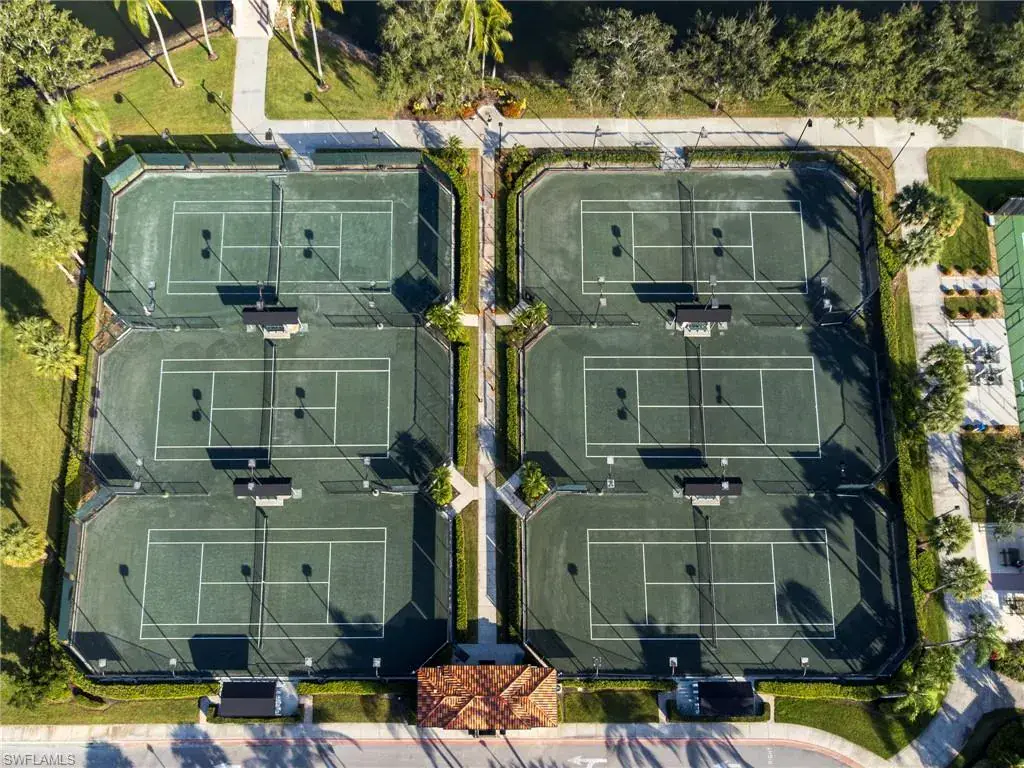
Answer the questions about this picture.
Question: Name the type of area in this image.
sports ground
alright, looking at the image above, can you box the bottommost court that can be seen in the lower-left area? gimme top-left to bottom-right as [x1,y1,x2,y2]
[72,493,449,675]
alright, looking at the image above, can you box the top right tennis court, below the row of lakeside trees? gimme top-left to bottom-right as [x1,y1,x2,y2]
[523,168,868,326]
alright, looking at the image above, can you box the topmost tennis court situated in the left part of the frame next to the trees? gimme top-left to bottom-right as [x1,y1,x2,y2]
[106,169,450,327]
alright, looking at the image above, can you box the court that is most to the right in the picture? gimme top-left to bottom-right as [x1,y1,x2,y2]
[994,214,1024,436]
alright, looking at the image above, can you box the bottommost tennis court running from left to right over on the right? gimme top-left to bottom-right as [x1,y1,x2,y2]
[525,494,903,676]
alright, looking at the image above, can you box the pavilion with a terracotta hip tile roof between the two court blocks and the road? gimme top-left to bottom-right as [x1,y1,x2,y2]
[416,663,559,731]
